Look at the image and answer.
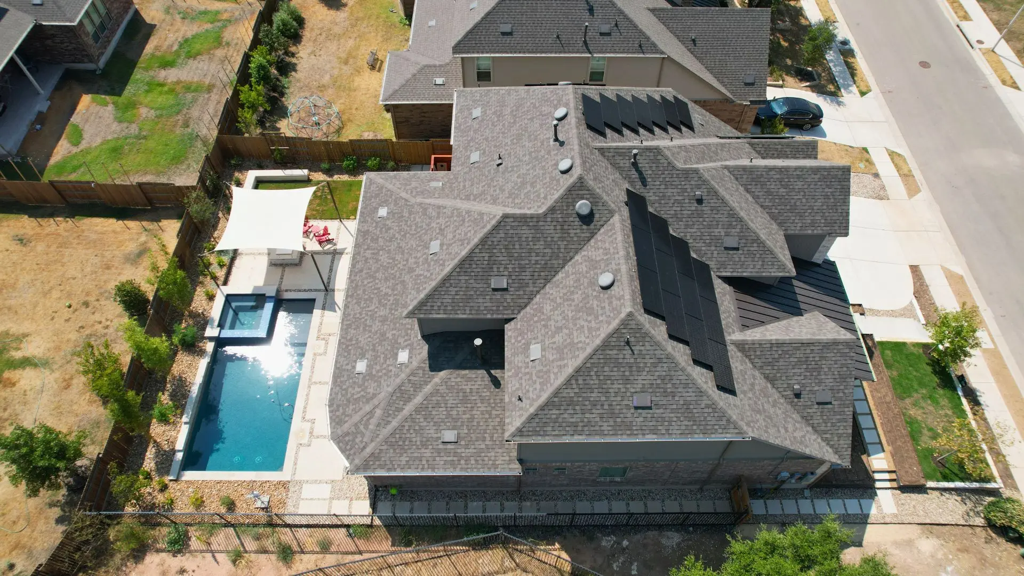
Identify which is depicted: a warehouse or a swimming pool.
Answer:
swimming pool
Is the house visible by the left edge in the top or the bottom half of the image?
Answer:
top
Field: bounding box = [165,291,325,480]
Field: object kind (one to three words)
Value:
swimming pool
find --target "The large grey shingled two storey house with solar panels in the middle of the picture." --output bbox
[324,82,879,497]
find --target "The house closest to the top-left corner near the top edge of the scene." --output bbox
[0,0,139,158]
